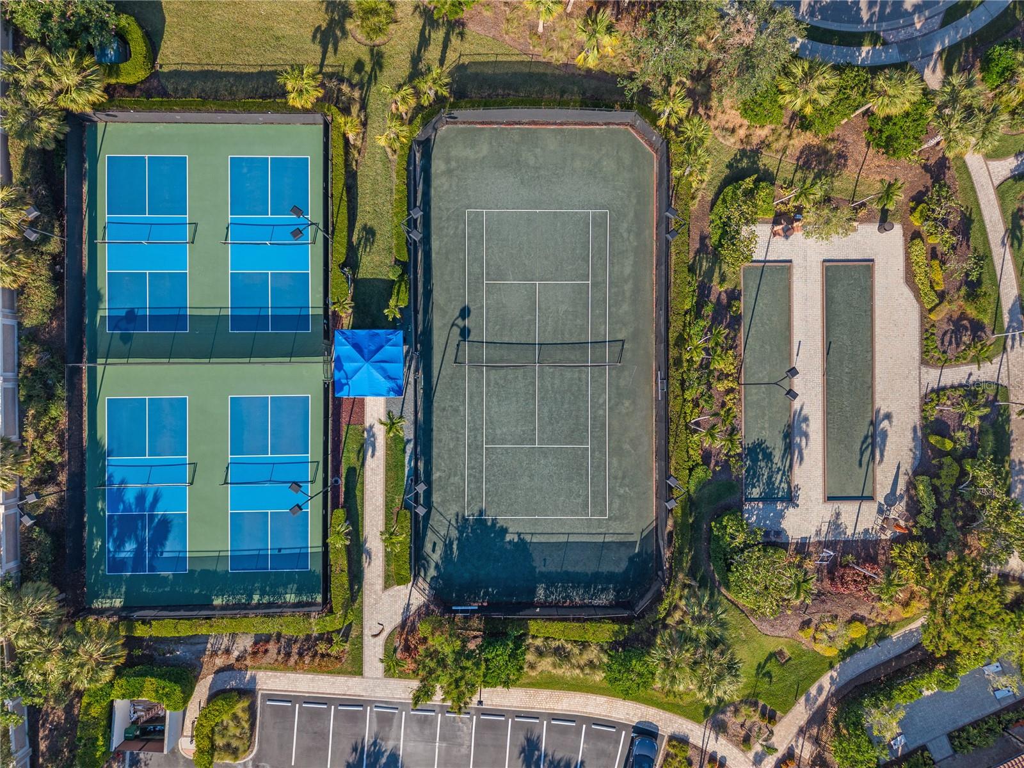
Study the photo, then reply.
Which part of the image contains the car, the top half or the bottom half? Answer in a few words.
bottom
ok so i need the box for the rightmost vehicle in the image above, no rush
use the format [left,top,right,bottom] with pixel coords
[629,731,658,768]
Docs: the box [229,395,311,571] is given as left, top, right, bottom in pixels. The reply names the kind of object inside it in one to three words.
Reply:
sports court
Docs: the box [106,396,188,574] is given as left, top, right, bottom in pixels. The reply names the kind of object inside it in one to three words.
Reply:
sports court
